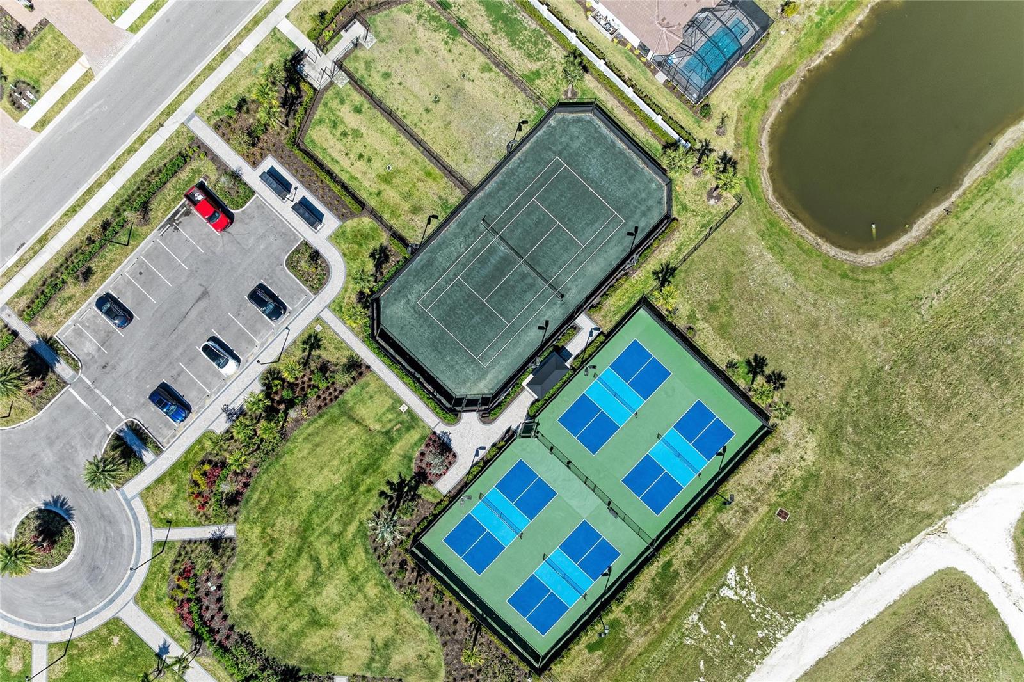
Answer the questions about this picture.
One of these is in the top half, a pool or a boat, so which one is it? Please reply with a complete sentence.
The feature located in the top half is a pool.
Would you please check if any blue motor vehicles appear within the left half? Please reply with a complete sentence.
Yes, a blue motor vehicle shows up within the left half.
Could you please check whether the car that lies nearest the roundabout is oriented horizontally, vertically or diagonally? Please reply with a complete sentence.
I'd say the car that lies nearest the roundabout is aligned diagonally in the picture.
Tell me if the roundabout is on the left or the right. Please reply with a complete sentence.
The roundabout is on the left side of the image.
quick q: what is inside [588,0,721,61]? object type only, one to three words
house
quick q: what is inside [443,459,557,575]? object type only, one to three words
sports court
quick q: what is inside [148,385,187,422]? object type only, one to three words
car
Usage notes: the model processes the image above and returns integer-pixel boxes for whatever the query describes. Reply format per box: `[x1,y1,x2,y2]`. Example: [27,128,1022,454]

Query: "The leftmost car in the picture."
[93,294,130,330]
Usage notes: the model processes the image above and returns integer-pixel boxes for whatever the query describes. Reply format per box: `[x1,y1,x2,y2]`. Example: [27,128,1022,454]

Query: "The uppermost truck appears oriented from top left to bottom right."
[183,185,230,234]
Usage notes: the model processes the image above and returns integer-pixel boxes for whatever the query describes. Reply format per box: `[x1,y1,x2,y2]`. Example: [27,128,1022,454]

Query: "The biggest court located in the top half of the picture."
[374,108,668,409]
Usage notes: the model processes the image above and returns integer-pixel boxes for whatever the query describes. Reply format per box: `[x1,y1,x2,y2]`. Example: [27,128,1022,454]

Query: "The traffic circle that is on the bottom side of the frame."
[0,450,152,643]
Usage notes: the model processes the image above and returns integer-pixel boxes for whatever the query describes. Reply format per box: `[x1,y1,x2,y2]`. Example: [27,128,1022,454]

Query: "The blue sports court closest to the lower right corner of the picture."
[621,400,736,516]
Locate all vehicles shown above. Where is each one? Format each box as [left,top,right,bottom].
[148,385,187,422]
[199,339,236,376]
[248,284,285,320]
[93,294,130,330]
[183,185,230,234]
